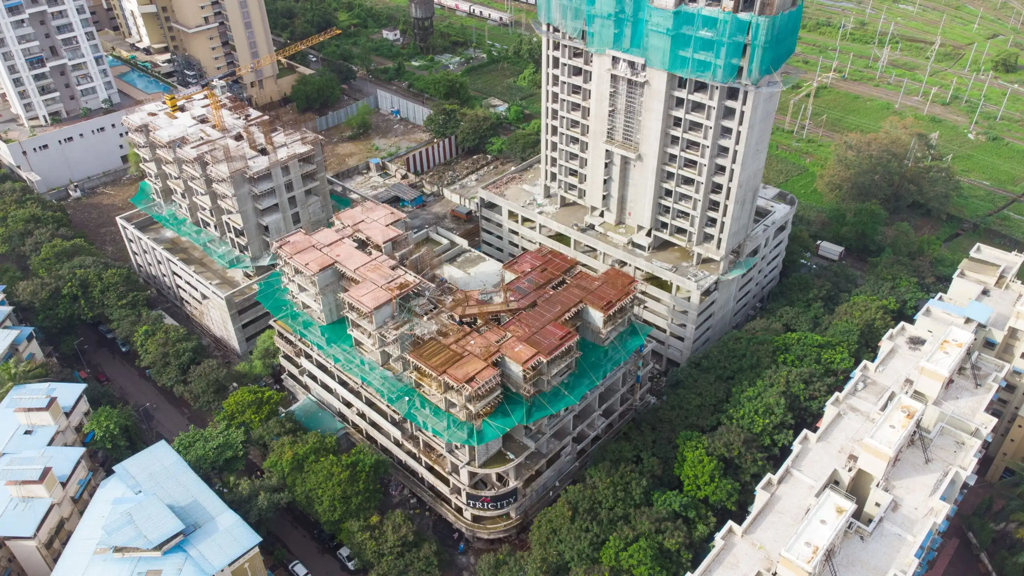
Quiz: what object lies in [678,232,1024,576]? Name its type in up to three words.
building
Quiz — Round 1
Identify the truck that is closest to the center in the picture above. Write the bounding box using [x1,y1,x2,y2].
[448,202,478,225]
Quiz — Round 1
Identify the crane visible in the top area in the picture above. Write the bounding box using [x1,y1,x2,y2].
[155,24,343,131]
